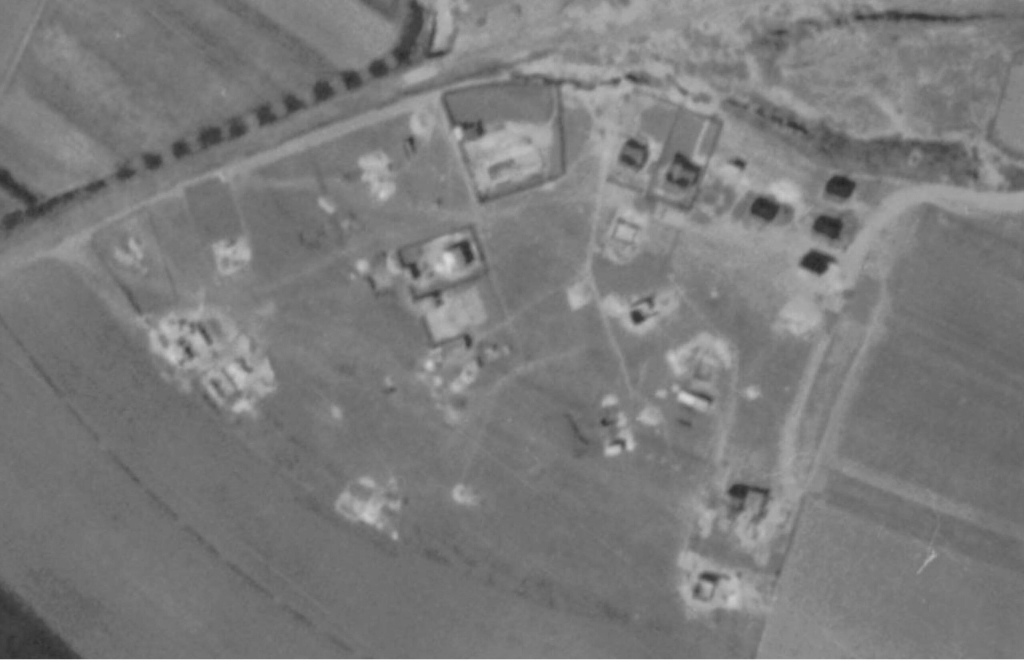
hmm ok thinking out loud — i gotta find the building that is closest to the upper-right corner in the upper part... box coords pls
[824,177,854,201]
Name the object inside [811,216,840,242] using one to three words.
house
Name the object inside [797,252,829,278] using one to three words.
house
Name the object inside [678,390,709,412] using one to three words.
barn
